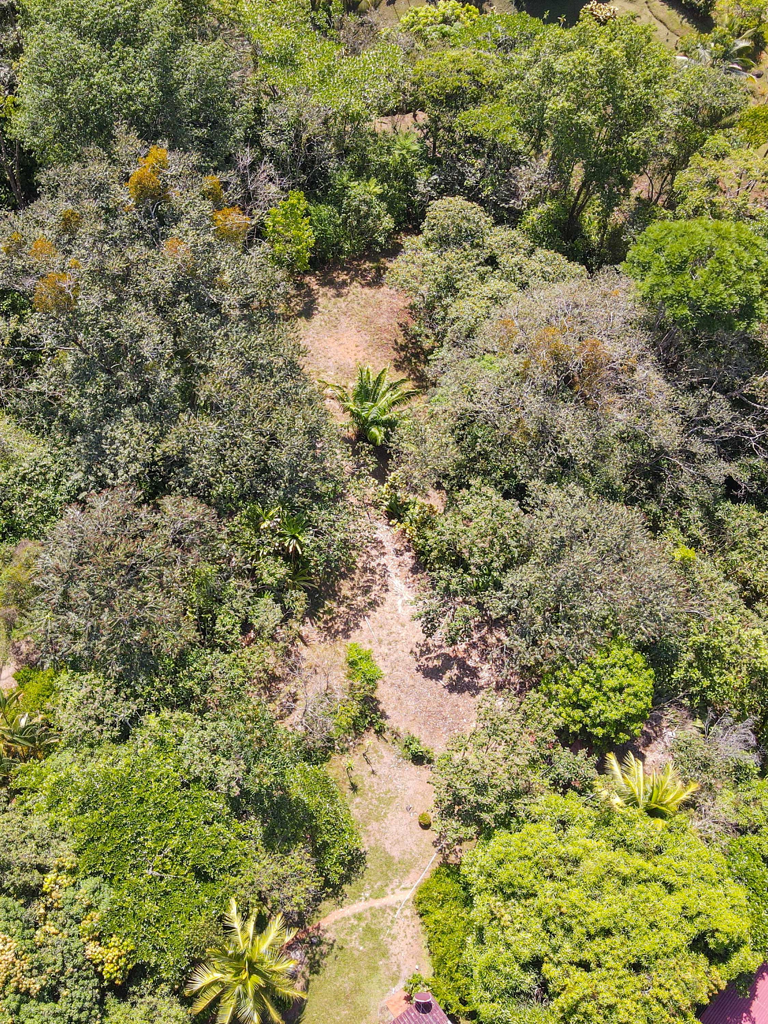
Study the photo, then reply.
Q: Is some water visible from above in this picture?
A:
No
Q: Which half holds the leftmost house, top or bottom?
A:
bottom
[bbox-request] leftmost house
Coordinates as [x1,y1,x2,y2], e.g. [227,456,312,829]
[393,992,451,1024]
